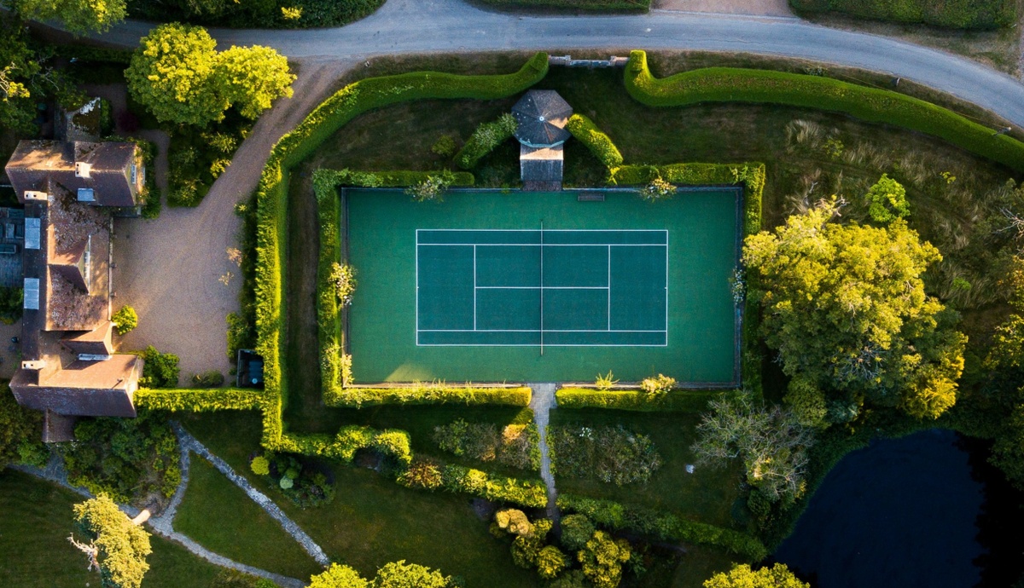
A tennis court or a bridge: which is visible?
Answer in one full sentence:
There is a tennis court in the scene.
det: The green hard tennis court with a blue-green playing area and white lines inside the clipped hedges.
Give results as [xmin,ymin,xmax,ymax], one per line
[349,192,736,383]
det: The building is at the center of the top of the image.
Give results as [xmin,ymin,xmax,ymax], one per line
[512,89,572,182]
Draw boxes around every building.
[512,89,572,182]
[1,139,155,446]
